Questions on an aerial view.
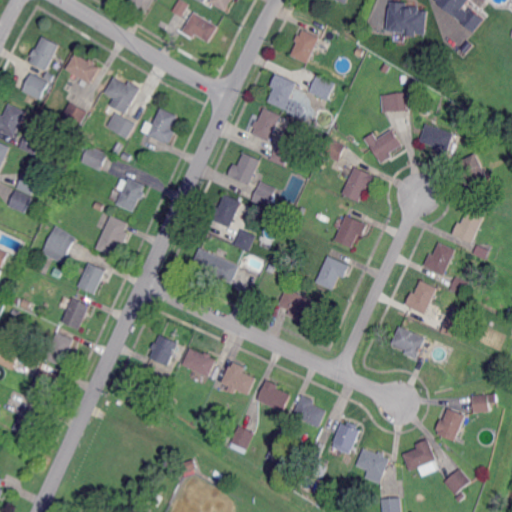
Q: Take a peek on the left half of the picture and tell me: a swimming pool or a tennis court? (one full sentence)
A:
Looking on the left half of the picture, you will find a swimming pool.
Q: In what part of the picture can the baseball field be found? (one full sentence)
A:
You can find the baseball field in the bottom area of the picture.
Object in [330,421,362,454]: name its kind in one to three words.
house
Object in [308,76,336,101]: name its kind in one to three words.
building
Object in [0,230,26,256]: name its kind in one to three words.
swimming pool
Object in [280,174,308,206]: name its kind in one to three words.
swimming pool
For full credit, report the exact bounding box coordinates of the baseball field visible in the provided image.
[170,476,236,512]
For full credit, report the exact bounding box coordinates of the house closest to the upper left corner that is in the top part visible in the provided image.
[28,36,60,70]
